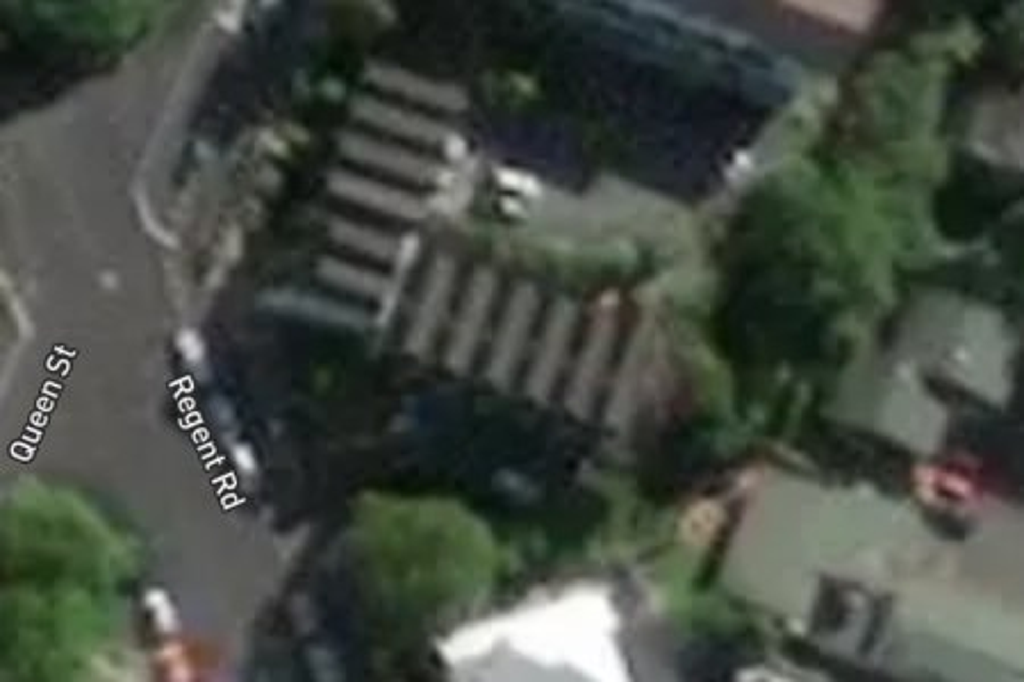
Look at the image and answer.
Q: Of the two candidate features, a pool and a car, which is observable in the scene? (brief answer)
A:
car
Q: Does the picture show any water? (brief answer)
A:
No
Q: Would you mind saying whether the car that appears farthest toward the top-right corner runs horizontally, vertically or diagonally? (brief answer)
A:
diagonally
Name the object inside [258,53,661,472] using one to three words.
building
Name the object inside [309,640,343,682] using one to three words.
car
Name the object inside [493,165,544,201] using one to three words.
car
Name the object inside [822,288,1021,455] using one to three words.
house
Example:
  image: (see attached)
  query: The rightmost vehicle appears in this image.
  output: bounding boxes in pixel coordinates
[922,462,984,509]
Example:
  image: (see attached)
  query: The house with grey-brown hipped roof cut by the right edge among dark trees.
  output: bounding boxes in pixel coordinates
[966,87,1024,178]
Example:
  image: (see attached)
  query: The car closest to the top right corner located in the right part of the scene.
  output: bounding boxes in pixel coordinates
[717,142,756,185]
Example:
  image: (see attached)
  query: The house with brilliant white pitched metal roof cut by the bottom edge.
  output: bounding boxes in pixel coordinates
[439,580,640,682]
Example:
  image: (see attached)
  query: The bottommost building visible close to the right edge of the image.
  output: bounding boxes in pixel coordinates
[721,472,1024,682]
